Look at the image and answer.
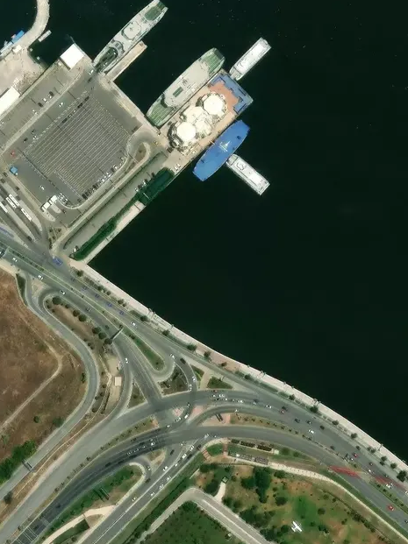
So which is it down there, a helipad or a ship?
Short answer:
ship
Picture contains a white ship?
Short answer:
Yes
